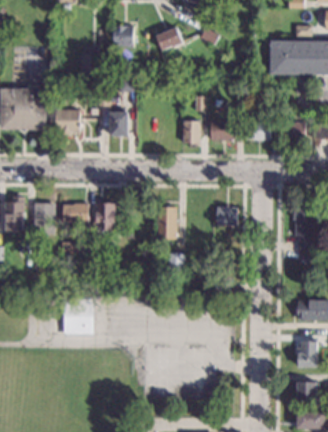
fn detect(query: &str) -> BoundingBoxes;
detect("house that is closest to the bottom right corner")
[296,415,327,430]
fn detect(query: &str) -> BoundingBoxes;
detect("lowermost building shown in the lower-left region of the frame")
[64,300,96,337]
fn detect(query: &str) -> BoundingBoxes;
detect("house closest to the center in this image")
[158,204,178,240]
